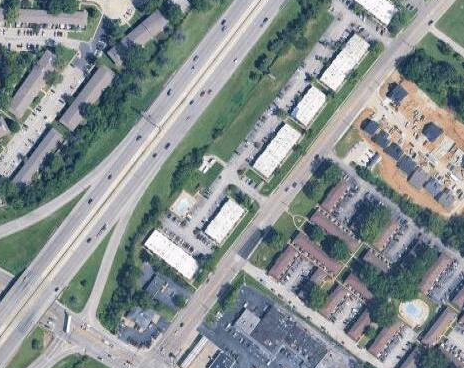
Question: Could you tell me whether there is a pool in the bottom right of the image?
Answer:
Yes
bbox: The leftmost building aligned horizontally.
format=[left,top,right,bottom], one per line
[14,9,87,27]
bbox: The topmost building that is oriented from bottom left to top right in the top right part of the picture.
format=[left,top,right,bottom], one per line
[320,34,370,91]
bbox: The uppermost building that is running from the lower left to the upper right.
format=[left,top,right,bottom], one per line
[124,9,168,50]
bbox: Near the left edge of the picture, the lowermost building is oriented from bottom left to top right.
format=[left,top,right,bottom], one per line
[14,129,63,184]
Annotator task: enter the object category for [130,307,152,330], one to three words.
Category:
building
